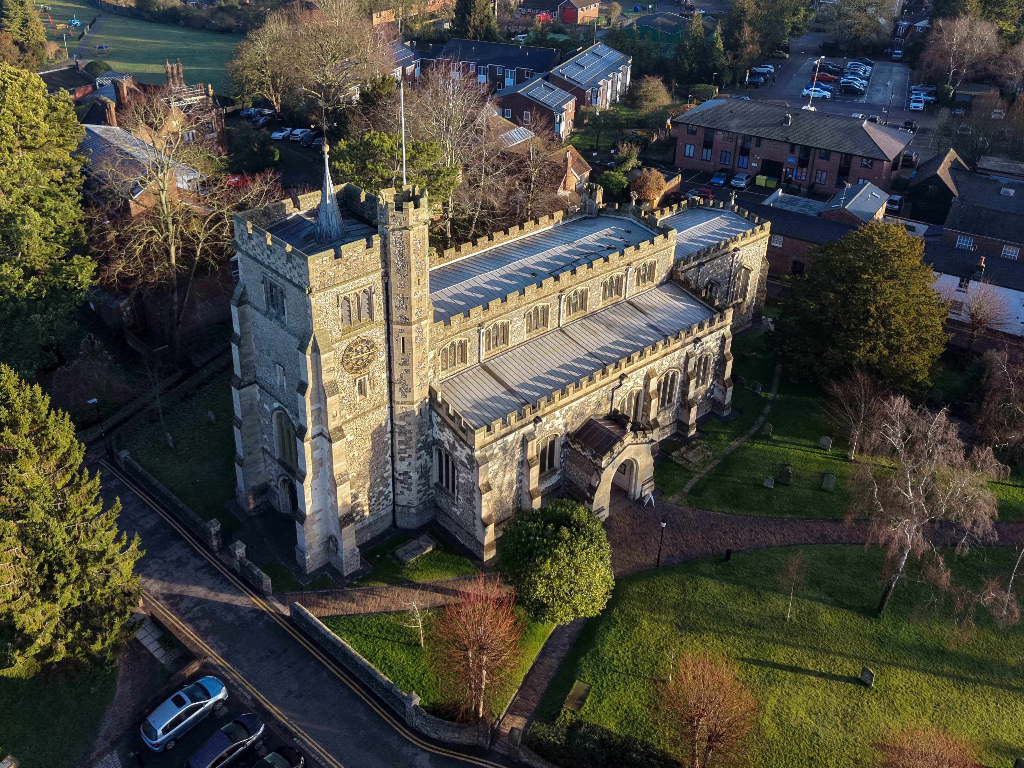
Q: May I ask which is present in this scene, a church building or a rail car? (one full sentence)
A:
This aerial view contains a church building.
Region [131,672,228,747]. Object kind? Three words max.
car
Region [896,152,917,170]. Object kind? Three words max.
car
